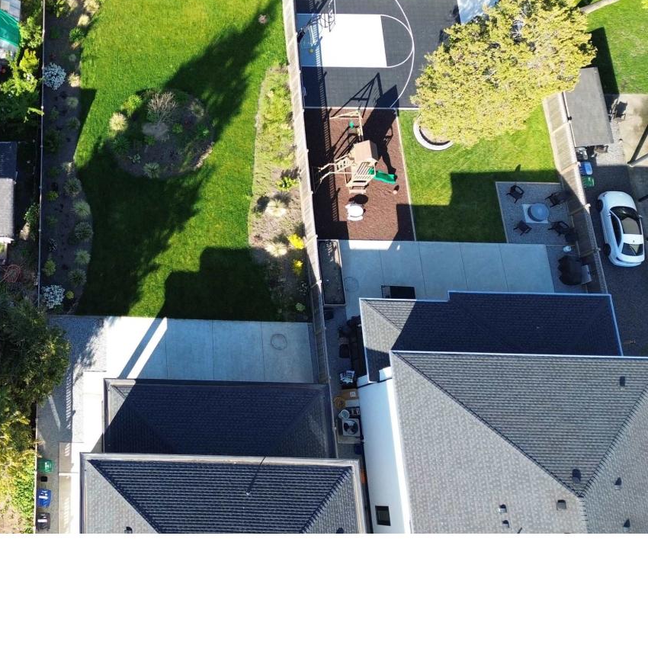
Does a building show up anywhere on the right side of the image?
Yes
